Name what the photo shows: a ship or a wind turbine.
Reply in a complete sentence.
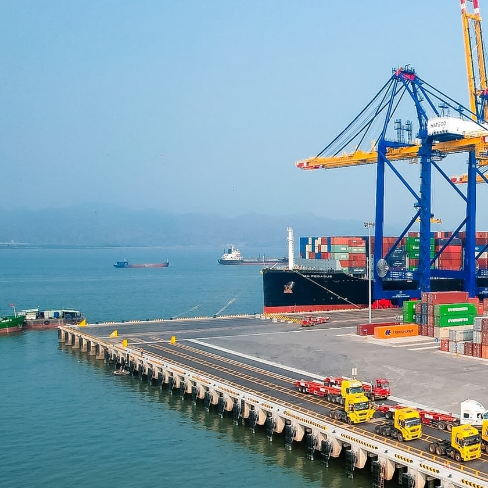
I can see a ship in this picture.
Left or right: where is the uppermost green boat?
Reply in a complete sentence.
The uppermost green boat sits on the left side.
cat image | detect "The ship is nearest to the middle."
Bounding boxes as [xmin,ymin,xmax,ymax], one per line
[219,245,308,264]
